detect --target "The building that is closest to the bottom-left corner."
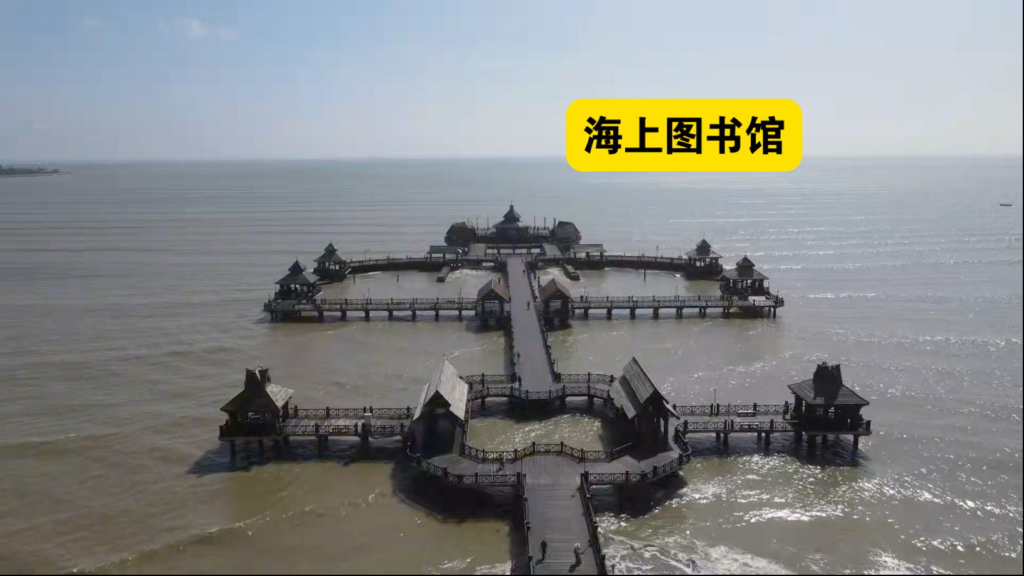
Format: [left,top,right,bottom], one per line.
[211,361,302,456]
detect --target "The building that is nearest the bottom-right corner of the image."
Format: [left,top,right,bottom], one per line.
[775,355,871,451]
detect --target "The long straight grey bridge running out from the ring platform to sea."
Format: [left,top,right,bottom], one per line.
[506,261,554,383]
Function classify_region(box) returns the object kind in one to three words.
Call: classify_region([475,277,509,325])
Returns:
shed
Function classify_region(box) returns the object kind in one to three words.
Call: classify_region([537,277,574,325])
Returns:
shed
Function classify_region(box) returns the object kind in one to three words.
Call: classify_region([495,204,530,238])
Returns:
building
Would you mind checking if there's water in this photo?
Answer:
Yes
